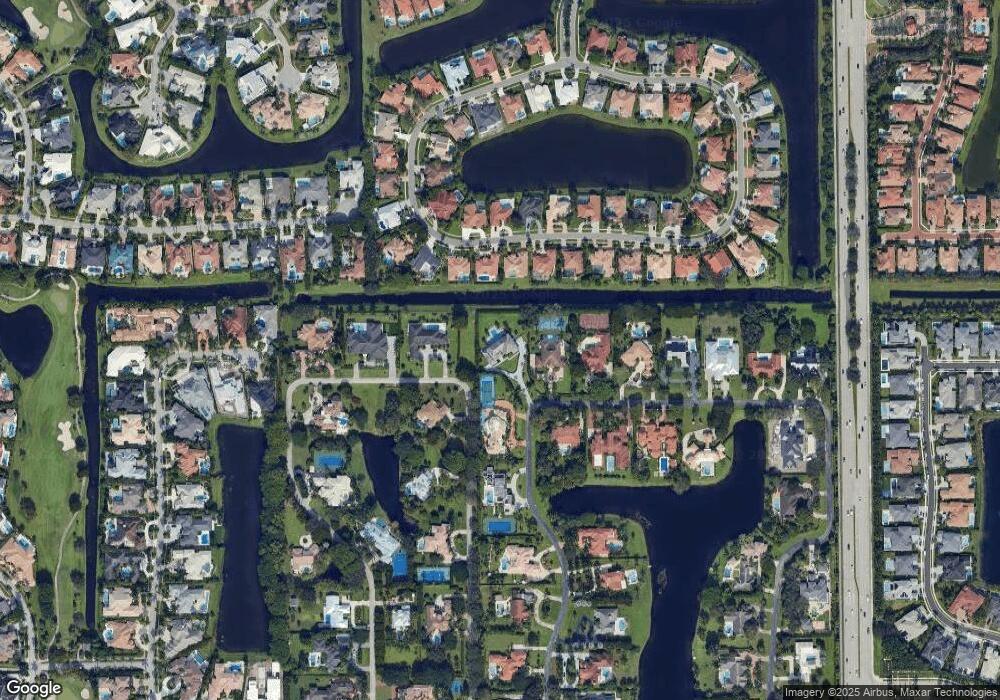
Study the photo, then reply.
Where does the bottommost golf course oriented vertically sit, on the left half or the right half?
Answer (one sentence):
You can find the bottommost golf course oriented vertically on the left side of the picture.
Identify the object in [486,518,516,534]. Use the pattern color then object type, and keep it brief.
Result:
blue tennis court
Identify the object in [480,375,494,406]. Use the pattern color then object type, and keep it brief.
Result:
blue tennis court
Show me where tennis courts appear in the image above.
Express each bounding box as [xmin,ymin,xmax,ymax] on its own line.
[538,316,567,330]
[314,451,345,470]
[392,553,408,577]
[417,567,450,583]
[580,314,609,329]
[480,375,494,406]
[486,518,516,534]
